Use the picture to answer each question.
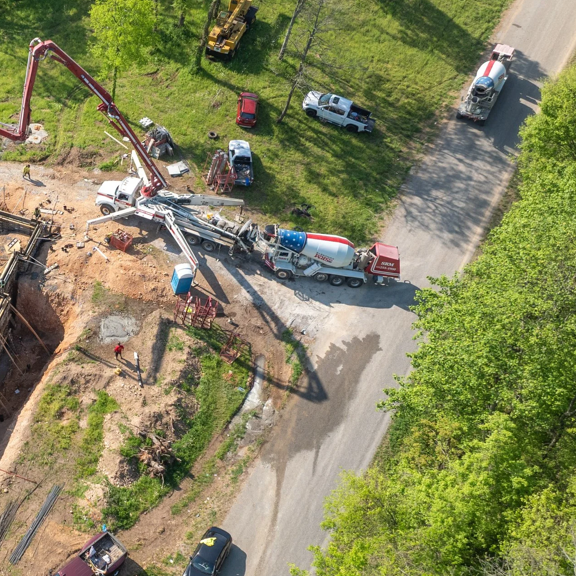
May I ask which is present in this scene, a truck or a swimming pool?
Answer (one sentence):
This aerial view contains a truck.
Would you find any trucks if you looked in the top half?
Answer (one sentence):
Yes, looking in the top half, one can make out a truck.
